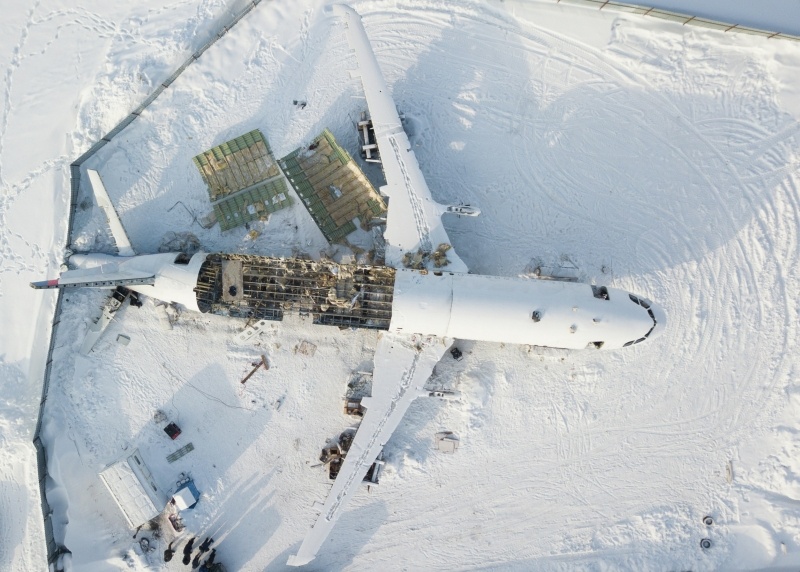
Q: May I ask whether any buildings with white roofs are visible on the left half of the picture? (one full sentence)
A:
Yes, there is a building with a white roof on the left half of the picture.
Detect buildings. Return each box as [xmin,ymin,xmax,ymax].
[97,450,168,531]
